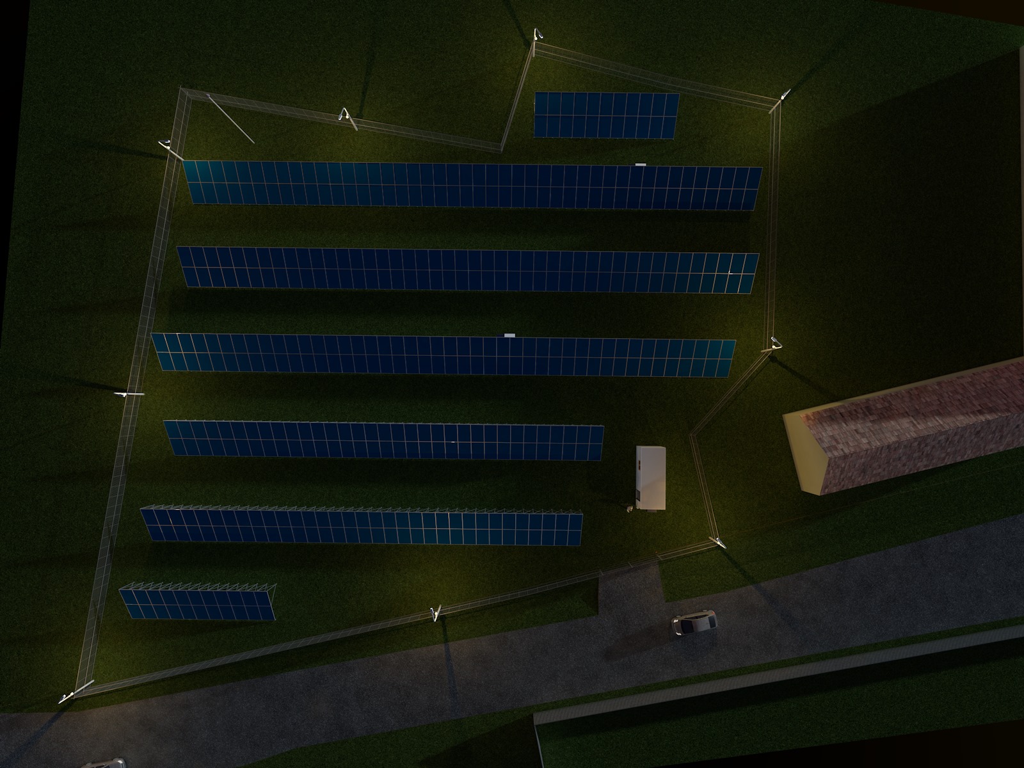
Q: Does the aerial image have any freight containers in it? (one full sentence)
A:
Yes, the frame does contain a freight container.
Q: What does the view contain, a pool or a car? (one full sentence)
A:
Looking from above, you can make out a car.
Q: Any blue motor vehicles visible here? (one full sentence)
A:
No, the scene contains no blue motor vehicle.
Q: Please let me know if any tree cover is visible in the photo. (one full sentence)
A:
No, no tree cover is visible.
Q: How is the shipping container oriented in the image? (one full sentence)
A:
The shipping container is oriented from top to bottom.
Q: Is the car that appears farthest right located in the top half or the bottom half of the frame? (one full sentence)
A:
The car that appears farthest right is in the bottom half of the image.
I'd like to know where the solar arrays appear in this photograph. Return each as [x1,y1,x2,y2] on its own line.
[141,505,582,546]
[177,247,759,293]
[164,419,603,461]
[120,582,277,622]
[534,92,679,138]
[151,333,736,378]
[184,161,761,210]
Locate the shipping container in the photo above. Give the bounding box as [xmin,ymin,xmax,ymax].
[636,446,666,513]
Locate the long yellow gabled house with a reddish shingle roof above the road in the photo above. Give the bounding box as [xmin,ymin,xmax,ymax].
[782,357,1024,497]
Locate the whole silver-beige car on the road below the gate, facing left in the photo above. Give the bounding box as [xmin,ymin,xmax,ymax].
[669,609,718,638]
